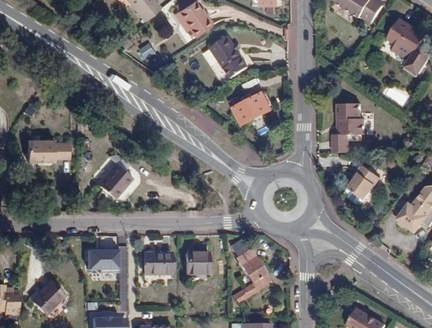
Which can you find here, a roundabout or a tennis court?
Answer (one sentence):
The one in the frame is a roundabout.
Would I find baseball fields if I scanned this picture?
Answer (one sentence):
No, this view has no baseball field in it.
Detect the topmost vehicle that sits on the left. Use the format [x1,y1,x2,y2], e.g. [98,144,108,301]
[109,74,131,90]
